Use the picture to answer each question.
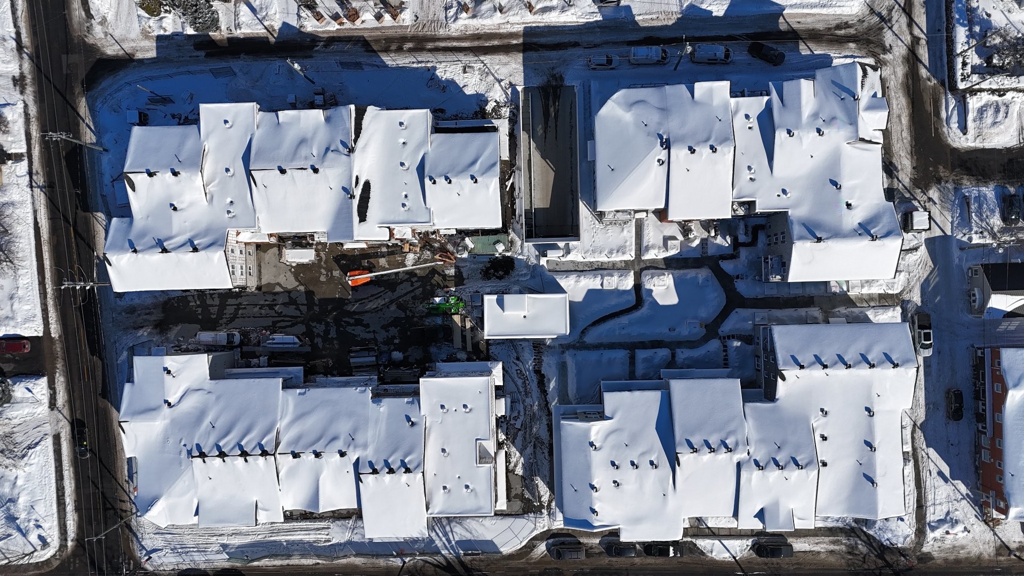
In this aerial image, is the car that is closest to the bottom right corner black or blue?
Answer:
black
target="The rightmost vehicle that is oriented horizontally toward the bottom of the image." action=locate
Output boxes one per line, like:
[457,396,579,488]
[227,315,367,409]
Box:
[752,541,794,559]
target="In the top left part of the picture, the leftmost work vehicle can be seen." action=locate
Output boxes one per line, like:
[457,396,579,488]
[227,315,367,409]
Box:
[126,111,153,126]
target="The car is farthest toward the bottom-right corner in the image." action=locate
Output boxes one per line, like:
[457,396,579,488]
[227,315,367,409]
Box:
[944,387,964,421]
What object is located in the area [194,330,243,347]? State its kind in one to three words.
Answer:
vehicle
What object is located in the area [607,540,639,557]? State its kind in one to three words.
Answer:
car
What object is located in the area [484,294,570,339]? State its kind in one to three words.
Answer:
building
